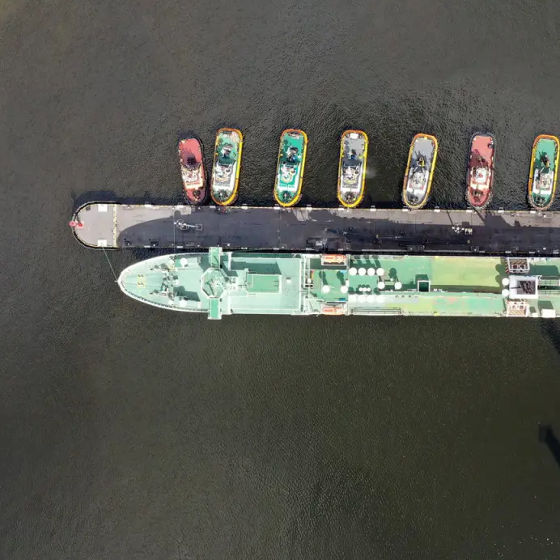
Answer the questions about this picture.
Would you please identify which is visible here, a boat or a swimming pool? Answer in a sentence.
The image shows a boat.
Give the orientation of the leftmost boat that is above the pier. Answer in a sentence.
The leftmost boat that is above the pier is oriented from top to bottom.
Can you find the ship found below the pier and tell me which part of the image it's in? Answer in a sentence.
The ship found below the pier sits in the center section of the image.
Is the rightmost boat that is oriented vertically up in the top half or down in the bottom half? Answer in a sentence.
You can find the rightmost boat that is oriented vertically in the top half.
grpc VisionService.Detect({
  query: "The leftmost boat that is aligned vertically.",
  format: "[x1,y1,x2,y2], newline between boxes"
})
[178,137,211,206]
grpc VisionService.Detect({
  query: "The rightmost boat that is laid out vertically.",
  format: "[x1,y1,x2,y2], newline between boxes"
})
[525,135,558,211]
